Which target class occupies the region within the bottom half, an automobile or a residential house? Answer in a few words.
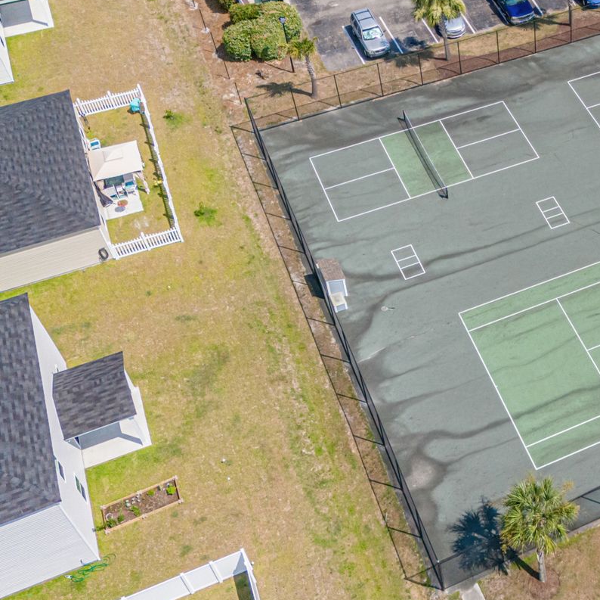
residential house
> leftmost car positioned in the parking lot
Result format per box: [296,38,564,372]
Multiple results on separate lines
[348,7,391,59]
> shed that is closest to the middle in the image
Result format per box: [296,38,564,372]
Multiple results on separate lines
[318,257,350,304]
